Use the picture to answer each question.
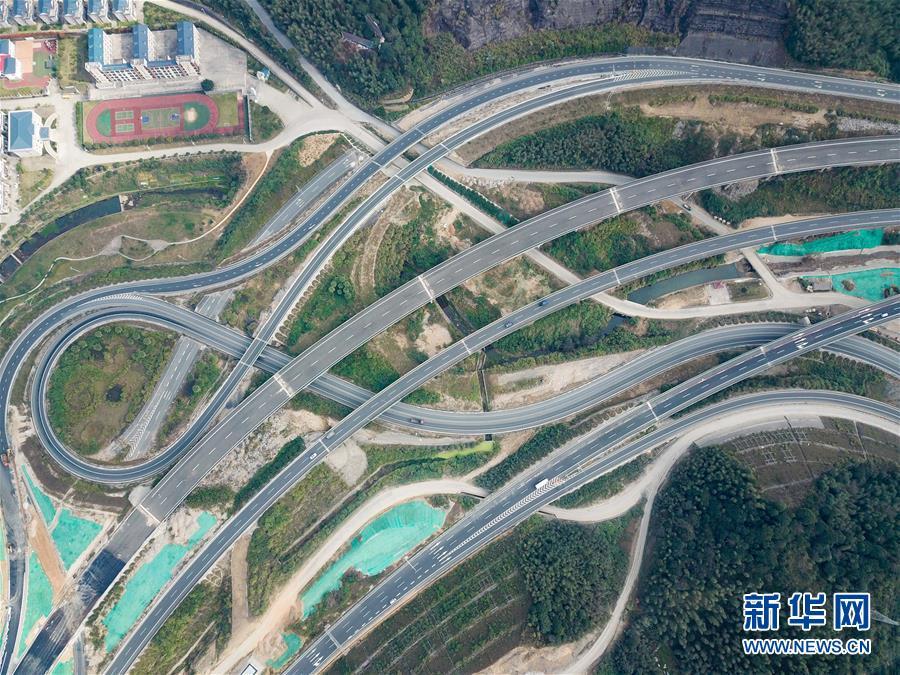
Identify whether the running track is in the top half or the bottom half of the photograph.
top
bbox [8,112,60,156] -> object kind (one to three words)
building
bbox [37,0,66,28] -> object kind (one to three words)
house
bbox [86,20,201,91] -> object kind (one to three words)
building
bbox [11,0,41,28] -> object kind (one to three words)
house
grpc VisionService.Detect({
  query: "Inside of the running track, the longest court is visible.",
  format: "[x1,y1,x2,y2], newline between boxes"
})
[141,105,181,128]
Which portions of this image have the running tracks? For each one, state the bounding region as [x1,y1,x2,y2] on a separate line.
[86,93,218,145]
